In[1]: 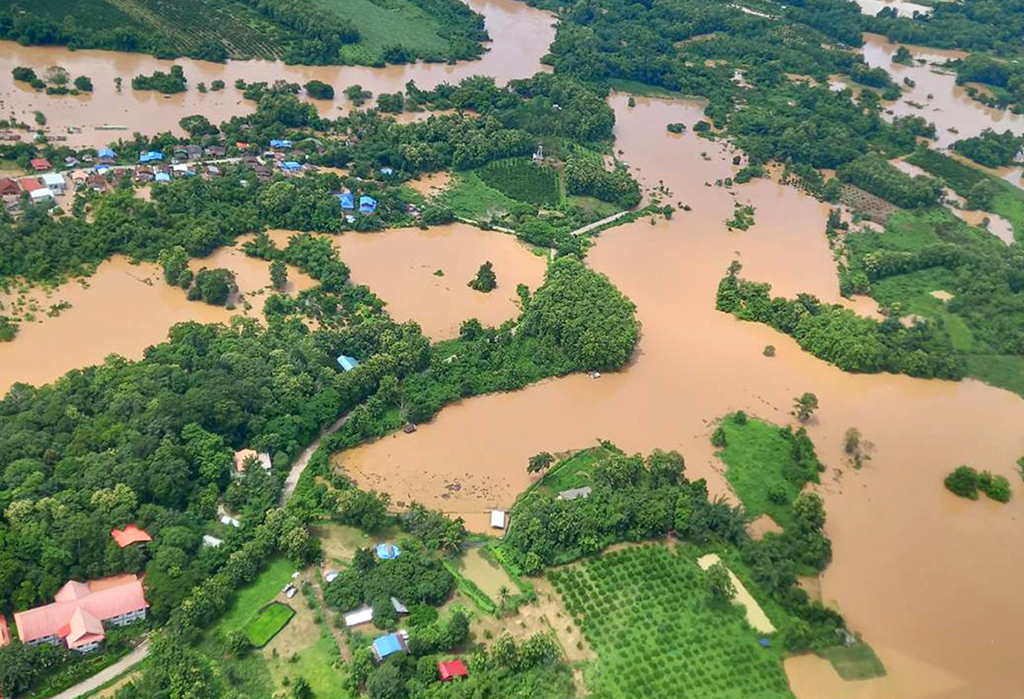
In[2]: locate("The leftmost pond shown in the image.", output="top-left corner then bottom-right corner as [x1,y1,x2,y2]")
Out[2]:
[453,547,524,604]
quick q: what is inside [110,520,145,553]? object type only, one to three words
house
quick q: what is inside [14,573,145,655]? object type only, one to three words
building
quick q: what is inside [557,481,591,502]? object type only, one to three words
house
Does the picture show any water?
Yes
